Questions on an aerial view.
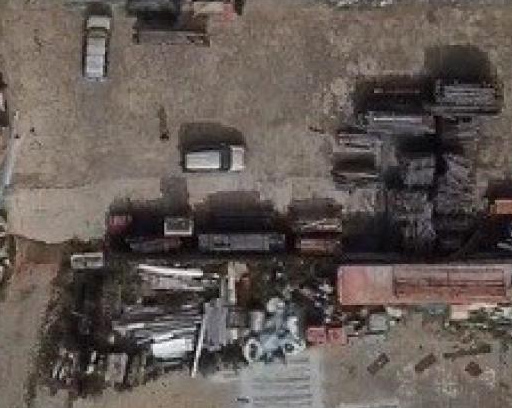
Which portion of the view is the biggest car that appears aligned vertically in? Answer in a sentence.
Look in the top left portion of the view to spot the biggest car that appears aligned vertically.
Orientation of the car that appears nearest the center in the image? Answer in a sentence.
I'd say the car that appears nearest the center is aligned from left to right in the picture.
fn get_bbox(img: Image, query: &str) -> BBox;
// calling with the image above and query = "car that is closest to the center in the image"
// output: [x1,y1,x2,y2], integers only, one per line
[183,146,248,174]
